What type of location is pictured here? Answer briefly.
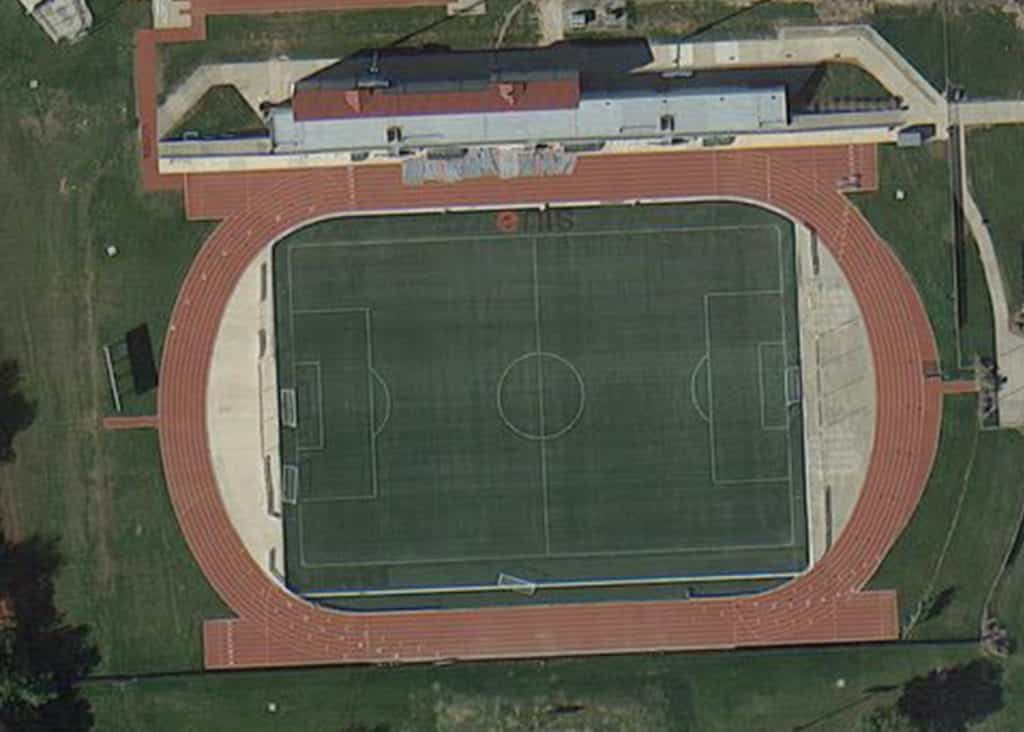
sports ground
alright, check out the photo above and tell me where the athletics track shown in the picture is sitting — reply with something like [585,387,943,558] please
[158,146,943,669]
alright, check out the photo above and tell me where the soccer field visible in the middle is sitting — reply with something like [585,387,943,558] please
[273,199,812,613]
